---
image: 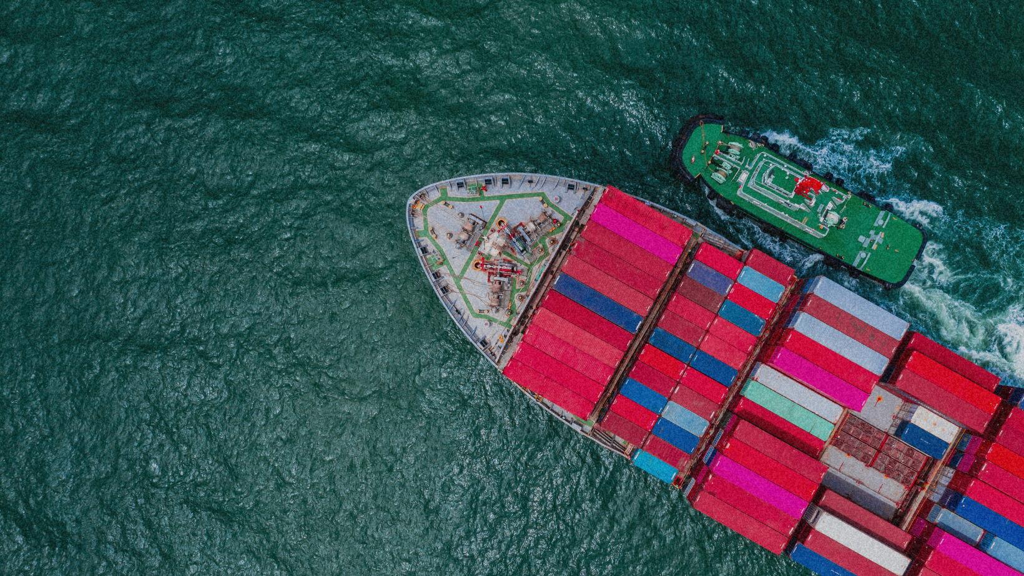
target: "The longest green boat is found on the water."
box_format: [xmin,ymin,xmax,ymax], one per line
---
[667,115,928,292]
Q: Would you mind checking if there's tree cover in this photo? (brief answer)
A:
No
